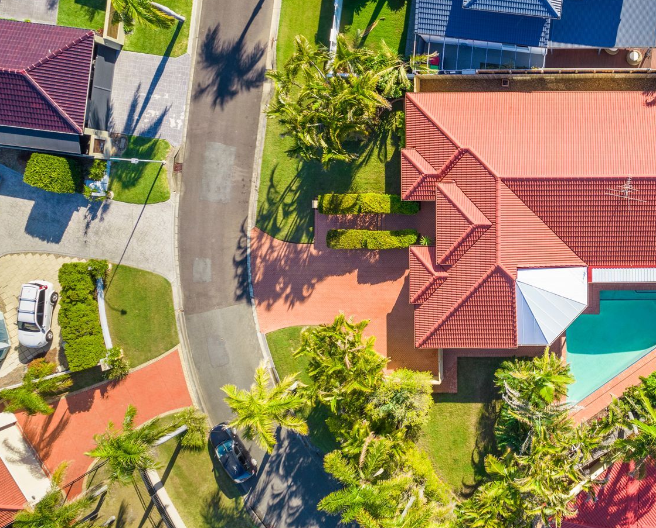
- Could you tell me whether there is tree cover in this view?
Yes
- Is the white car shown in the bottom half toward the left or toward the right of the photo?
left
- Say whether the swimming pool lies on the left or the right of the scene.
right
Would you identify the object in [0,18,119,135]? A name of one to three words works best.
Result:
house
